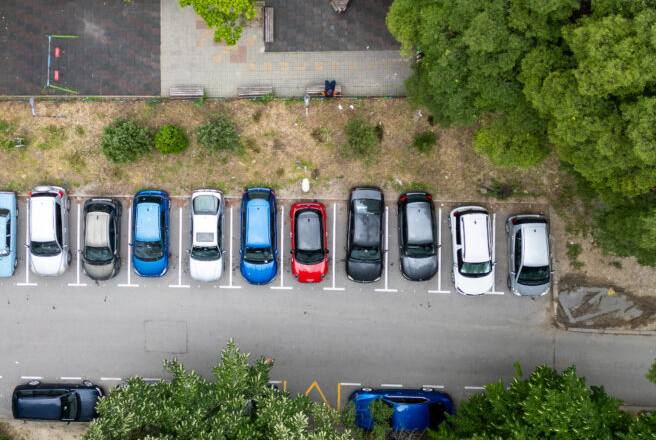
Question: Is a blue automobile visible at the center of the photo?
Yes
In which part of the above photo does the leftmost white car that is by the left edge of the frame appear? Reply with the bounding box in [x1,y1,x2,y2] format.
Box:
[25,186,71,276]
